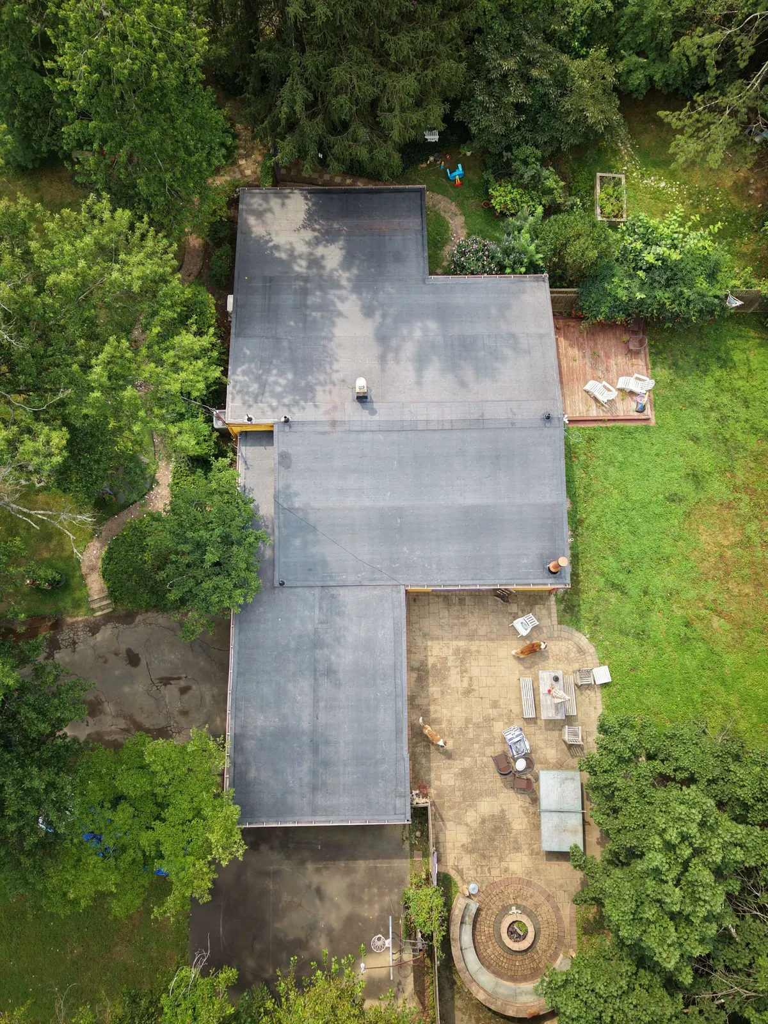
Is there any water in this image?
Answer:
No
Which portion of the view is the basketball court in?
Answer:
bottom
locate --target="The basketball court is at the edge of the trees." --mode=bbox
[189,800,416,1024]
